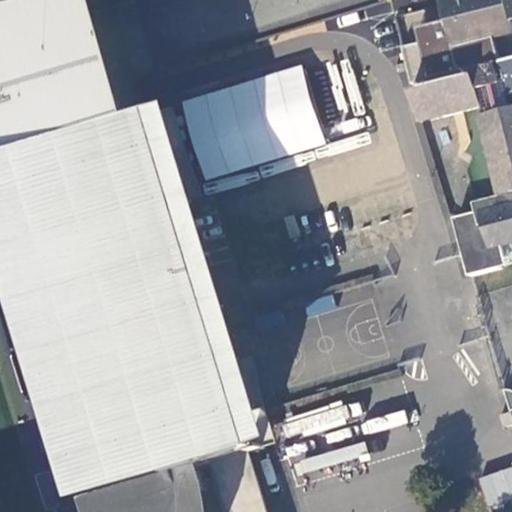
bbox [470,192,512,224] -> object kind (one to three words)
building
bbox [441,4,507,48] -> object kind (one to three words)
house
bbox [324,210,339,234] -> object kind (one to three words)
vehicle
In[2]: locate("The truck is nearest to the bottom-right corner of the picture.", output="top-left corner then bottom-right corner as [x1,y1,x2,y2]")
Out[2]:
[360,408,420,436]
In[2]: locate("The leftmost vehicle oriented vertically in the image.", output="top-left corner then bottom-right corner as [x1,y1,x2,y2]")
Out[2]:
[260,458,277,492]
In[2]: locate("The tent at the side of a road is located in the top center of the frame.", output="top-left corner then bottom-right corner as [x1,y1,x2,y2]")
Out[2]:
[182,66,326,184]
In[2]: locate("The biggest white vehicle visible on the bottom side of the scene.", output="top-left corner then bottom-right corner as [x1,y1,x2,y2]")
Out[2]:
[282,404,362,439]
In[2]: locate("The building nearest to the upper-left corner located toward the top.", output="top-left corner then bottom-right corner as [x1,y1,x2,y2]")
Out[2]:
[0,0,120,142]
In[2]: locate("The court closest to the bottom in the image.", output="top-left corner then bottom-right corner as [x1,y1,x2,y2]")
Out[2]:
[256,293,396,396]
